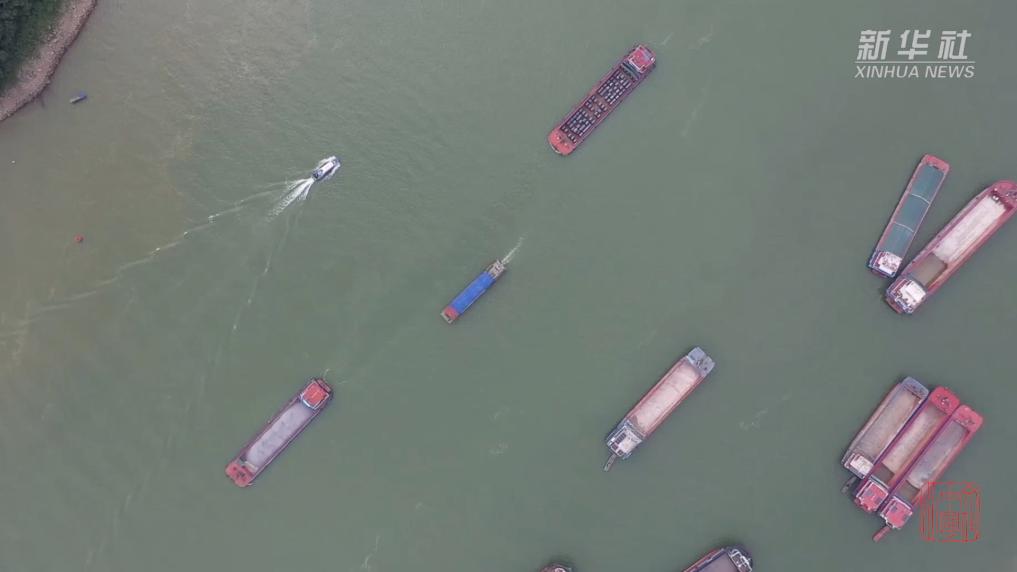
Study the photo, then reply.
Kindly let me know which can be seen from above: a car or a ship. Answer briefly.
ship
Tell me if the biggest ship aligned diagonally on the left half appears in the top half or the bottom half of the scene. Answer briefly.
bottom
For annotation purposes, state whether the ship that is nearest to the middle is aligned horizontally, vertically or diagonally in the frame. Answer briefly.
diagonally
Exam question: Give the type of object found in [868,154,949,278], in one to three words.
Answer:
ship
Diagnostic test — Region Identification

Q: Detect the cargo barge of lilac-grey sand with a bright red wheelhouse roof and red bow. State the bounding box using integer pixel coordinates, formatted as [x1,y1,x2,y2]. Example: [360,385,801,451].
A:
[224,377,335,490]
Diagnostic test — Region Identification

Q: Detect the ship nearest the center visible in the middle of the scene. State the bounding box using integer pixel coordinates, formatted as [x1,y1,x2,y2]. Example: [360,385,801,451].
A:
[441,259,506,323]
